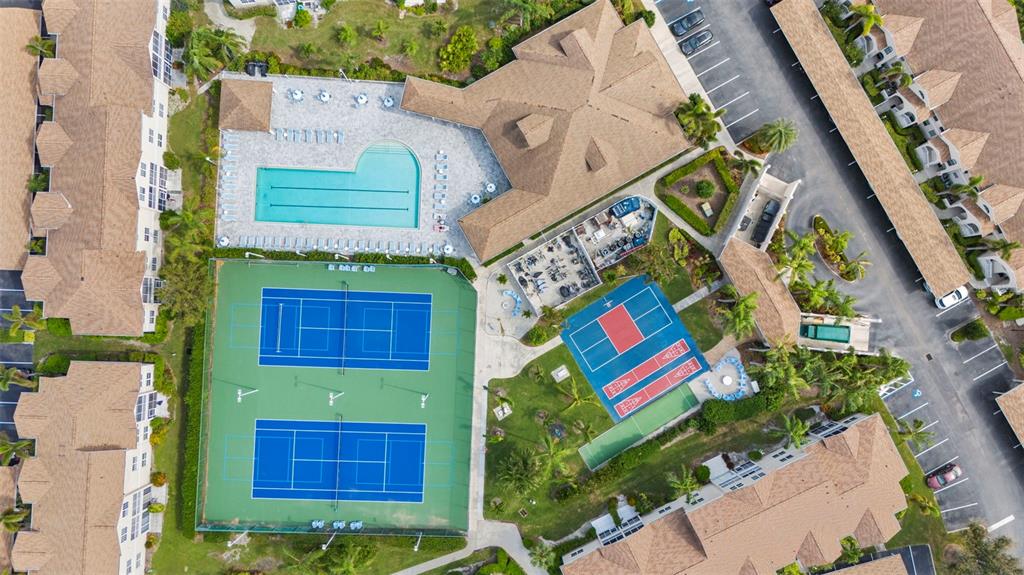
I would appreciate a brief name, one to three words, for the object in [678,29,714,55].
car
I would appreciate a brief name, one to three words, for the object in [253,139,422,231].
swimming pool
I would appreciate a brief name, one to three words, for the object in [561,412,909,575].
building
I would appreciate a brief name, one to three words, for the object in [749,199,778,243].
truck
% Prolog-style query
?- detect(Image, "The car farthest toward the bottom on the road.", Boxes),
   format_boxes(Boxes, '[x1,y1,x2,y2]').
[925,462,961,488]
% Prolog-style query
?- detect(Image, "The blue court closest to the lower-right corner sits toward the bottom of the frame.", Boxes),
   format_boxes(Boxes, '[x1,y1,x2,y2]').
[560,276,711,424]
